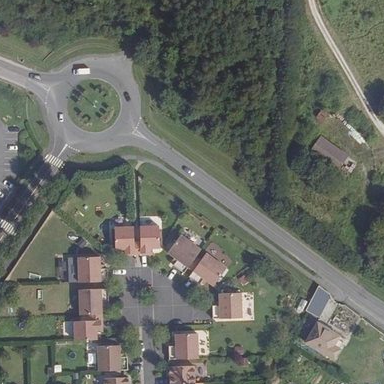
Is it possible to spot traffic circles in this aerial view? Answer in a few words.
Yes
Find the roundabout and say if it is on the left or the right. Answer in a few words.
left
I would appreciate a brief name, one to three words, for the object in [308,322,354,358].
house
